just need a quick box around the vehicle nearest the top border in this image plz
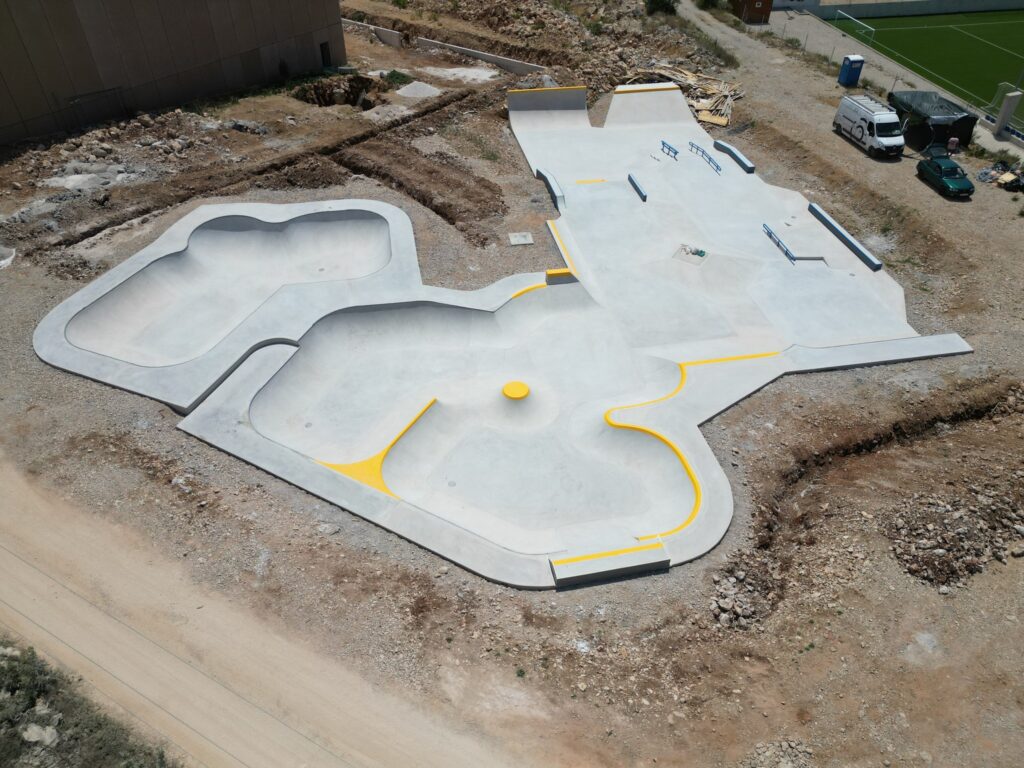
[831,91,909,157]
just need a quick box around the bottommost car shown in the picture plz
[915,145,978,195]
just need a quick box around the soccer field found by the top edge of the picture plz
[823,10,1024,134]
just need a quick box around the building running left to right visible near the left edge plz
[0,0,345,155]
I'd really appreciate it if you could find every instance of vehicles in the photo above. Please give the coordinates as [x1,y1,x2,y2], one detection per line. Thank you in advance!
[831,91,909,157]
[915,145,978,195]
